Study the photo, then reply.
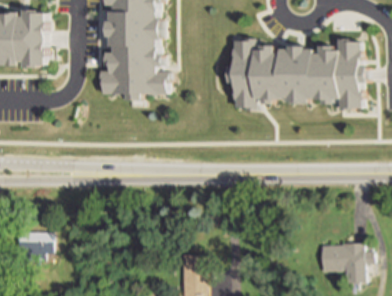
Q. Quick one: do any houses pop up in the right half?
Yes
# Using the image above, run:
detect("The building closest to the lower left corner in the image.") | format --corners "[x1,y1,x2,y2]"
[18,232,56,264]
